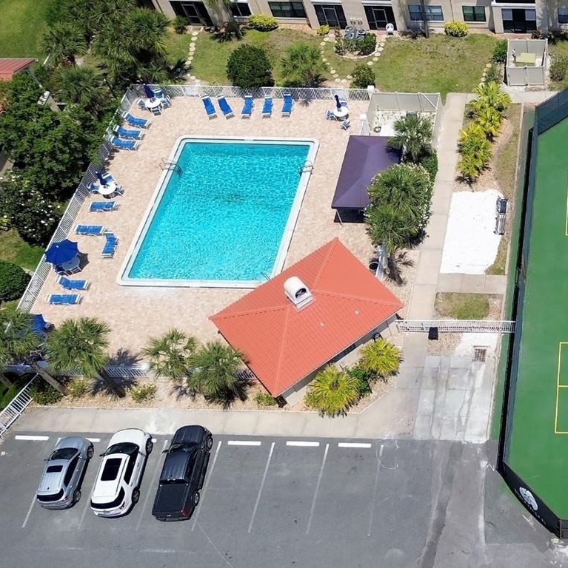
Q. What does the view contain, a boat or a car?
car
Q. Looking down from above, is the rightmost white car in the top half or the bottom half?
bottom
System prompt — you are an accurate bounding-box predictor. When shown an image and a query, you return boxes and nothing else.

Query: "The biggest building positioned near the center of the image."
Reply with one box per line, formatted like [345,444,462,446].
[209,237,404,405]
